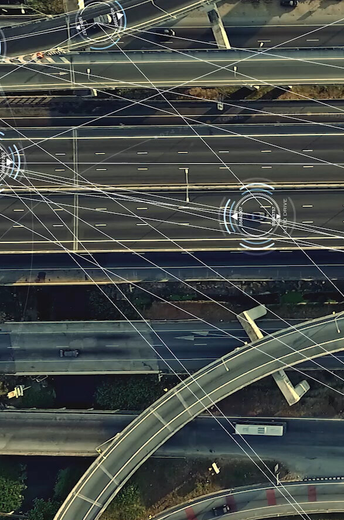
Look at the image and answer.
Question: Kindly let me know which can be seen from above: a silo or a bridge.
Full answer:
The one in the frame is a bridge.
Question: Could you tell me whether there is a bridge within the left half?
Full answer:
Yes, the scene does show a bridge within the left half.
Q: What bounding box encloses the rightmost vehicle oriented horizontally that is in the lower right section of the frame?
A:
[232,423,286,438]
